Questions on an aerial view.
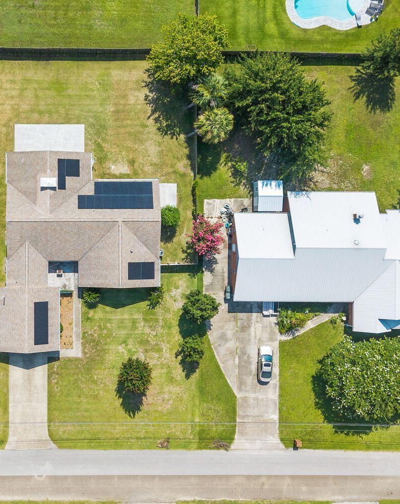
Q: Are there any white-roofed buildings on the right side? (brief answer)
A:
Yes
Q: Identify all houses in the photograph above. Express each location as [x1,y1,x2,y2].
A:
[0,150,161,354]
[231,191,400,334]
